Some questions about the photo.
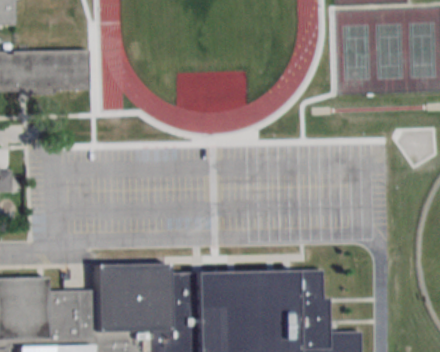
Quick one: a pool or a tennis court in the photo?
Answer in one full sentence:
Of the two, only a tennis court appears.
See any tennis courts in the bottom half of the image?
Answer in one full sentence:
No, there's no tennis court to be seen in the bottom half of the image.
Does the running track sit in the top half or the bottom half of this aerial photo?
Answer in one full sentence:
It is in the top half that the running track appears.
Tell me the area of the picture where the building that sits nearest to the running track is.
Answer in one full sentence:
You can find the building that sits nearest to the running track in the top left area of the picture.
